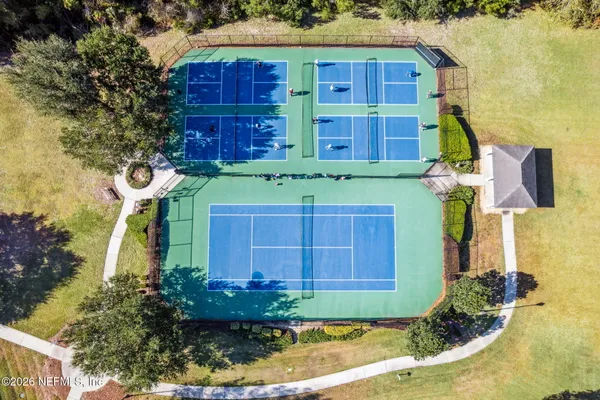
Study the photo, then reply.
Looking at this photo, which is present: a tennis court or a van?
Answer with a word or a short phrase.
tennis court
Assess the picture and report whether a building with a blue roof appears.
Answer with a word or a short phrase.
No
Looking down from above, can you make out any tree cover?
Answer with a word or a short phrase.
Yes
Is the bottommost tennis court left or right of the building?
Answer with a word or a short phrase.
to the left of it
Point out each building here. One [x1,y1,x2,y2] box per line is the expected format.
[483,145,538,209]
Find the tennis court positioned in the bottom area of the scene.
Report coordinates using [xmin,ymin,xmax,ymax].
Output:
[159,177,443,320]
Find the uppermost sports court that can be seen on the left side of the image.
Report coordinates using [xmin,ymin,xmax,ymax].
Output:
[186,61,288,105]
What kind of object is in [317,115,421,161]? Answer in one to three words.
sports court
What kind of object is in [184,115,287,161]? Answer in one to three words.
sports court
